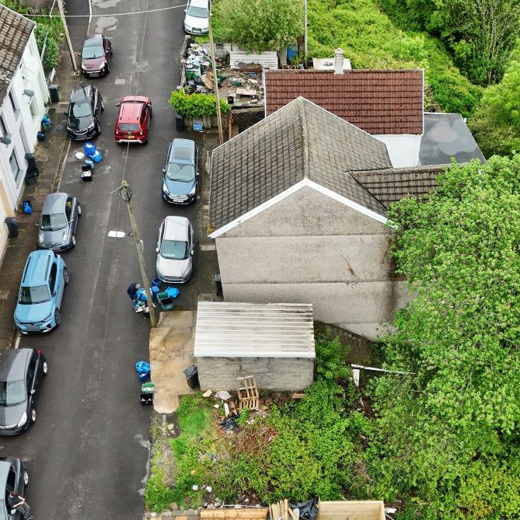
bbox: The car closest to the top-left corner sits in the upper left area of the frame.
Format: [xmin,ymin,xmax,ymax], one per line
[80,37,114,77]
